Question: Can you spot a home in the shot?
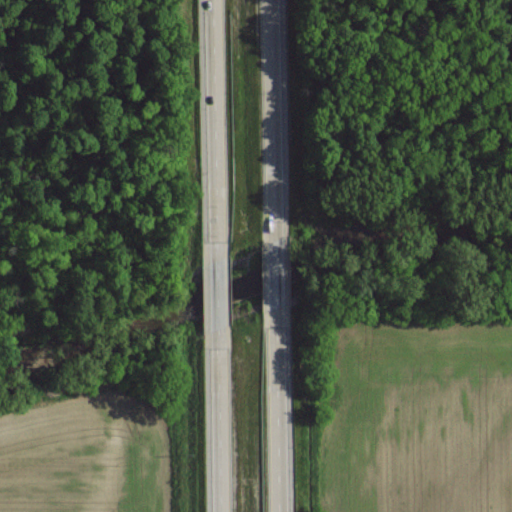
No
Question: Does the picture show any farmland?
Yes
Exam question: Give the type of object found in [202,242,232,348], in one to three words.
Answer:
bridge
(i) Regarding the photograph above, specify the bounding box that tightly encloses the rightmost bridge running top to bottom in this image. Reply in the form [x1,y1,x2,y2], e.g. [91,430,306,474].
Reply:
[262,243,292,328]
